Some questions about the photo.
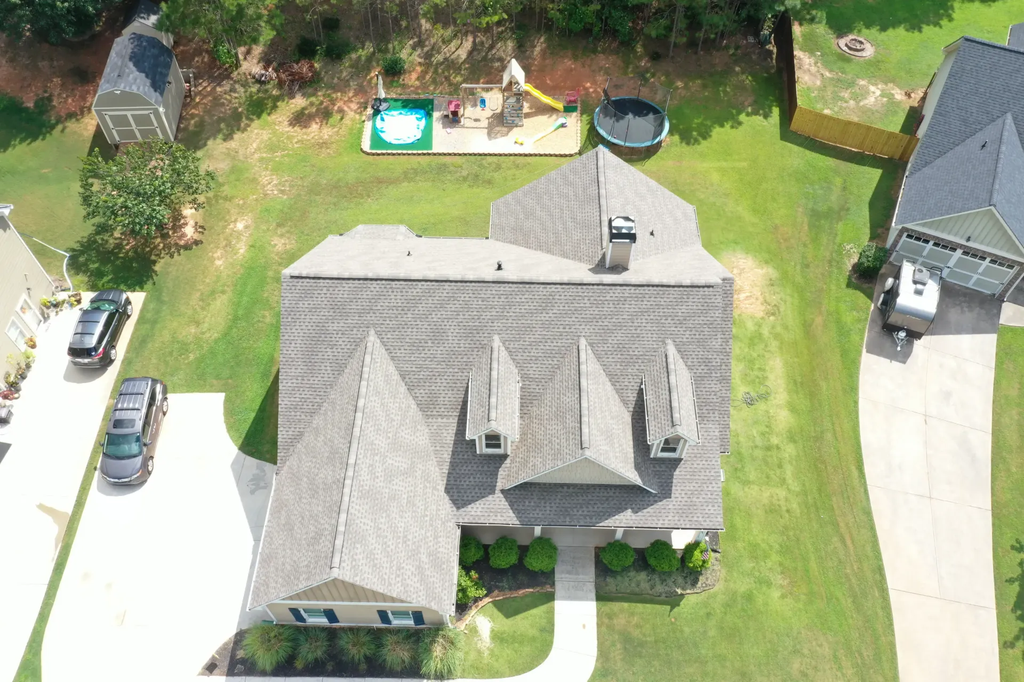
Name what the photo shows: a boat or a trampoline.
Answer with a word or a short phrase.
trampoline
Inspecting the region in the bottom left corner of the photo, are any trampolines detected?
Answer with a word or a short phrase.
No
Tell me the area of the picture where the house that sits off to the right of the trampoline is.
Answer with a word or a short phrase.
top right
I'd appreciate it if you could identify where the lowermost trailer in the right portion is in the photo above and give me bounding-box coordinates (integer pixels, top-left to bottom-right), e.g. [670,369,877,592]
[875,257,943,352]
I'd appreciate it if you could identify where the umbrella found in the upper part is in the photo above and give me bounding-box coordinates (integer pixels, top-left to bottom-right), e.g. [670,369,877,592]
[370,67,391,109]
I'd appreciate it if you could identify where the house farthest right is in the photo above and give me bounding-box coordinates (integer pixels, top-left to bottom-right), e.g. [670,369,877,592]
[884,31,1024,301]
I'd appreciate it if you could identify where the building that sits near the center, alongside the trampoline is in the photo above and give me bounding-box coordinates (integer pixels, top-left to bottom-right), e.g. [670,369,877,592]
[245,146,736,630]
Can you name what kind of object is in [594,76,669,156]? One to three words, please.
trampoline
